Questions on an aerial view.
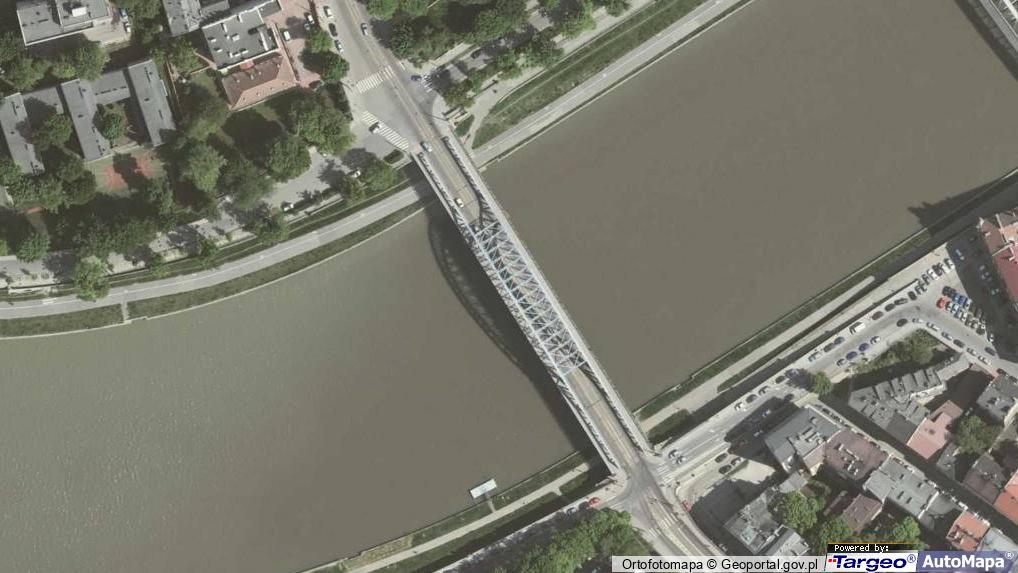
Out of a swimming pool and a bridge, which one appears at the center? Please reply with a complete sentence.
The feature located at the center is a bridge.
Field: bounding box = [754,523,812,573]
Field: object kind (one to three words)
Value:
house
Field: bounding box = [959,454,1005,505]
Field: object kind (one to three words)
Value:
house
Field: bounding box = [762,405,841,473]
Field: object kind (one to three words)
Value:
building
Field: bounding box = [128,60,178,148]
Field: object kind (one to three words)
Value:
building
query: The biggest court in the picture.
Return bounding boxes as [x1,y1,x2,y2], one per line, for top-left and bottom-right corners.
[85,147,168,196]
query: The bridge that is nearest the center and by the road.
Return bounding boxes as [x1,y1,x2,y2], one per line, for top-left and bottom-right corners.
[413,119,653,478]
